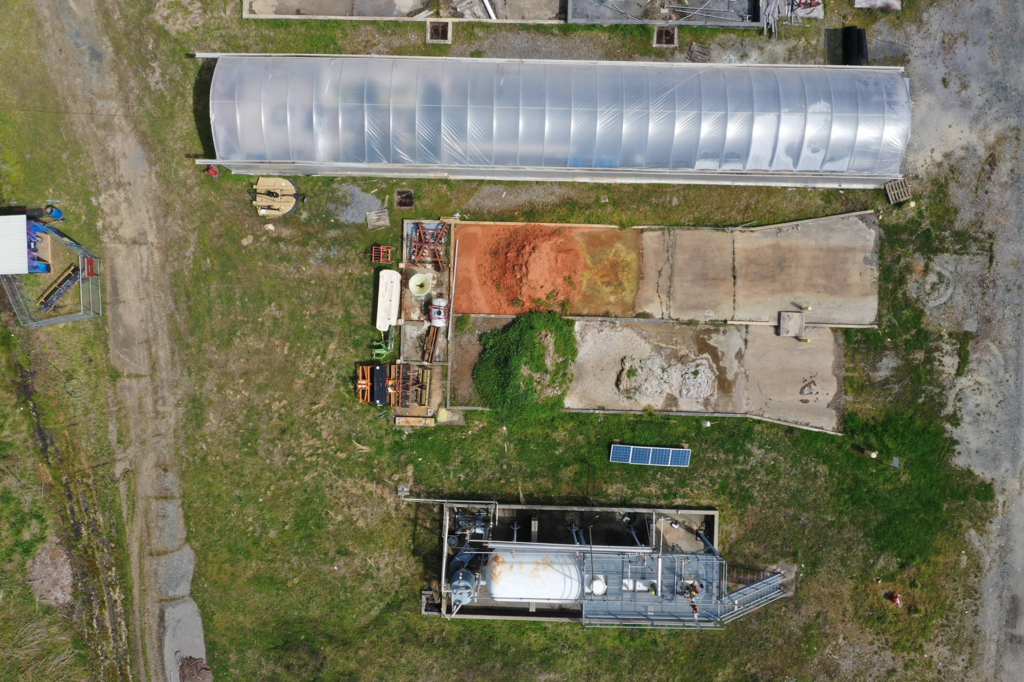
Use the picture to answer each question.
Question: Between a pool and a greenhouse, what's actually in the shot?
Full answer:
It is a greenhouse that can be seen here.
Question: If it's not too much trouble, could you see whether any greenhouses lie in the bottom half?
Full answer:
No, looking in the bottom half, there is no greenhouse.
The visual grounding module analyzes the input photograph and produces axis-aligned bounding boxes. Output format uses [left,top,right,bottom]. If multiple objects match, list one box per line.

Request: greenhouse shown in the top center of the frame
[195,47,908,189]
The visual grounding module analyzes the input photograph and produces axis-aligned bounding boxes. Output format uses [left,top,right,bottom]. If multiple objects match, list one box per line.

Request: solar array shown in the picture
[610,437,691,467]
